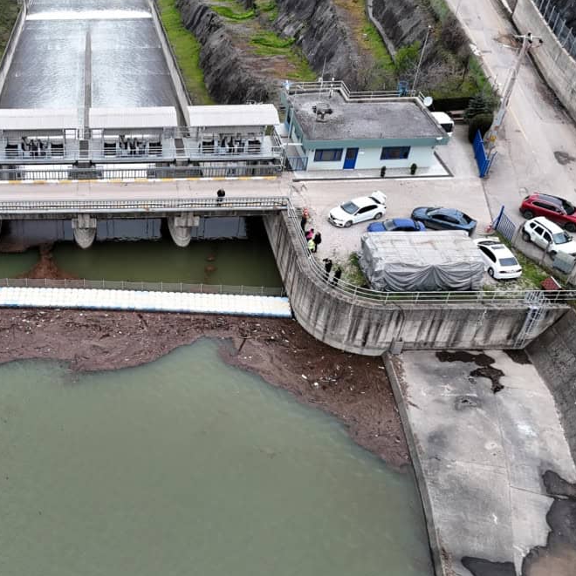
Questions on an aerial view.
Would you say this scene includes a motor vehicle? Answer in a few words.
Yes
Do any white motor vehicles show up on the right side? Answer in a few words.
Yes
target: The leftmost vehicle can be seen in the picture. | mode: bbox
[329,190,389,228]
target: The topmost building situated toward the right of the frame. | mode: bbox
[282,61,452,180]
